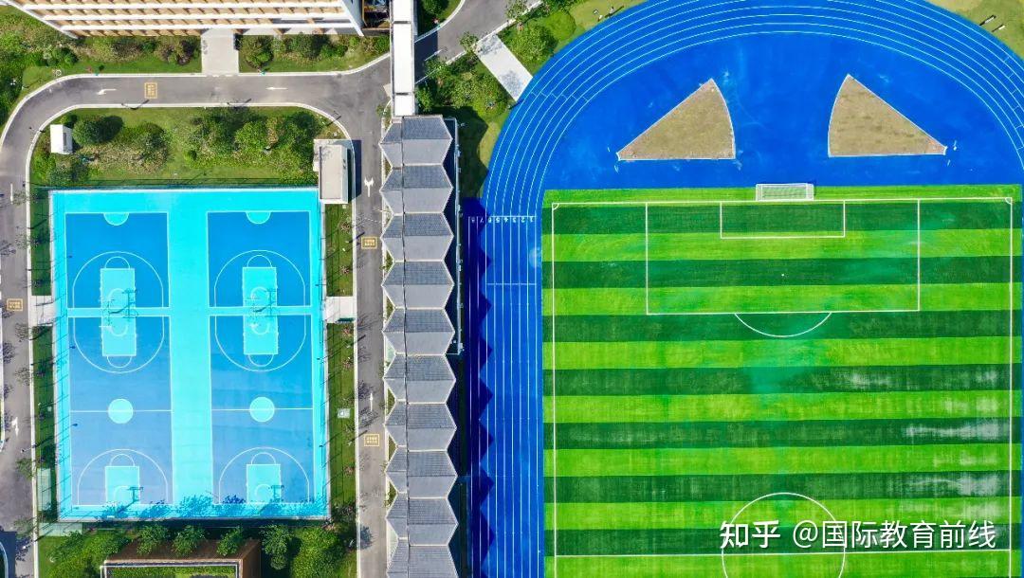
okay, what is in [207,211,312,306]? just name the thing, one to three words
basketball court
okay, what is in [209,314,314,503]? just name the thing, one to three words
basketball court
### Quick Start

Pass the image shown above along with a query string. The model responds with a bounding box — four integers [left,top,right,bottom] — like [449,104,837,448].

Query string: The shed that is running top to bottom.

[319,144,349,206]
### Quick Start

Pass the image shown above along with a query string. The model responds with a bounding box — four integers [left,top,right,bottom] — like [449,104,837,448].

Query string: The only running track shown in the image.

[462,0,1024,578]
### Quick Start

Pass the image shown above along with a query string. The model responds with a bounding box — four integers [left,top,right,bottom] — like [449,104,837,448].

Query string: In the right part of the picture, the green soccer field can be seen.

[542,185,1022,578]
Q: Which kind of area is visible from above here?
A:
sports ground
